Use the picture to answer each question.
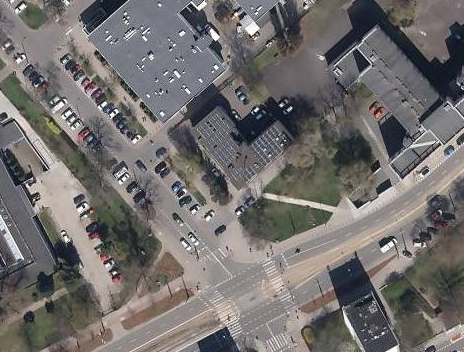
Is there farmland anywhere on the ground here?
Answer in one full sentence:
No, farmland can't be seen anywhere here.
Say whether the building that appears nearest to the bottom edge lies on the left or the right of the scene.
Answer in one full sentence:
The building that appears nearest to the bottom edge appears in the right half of the scene.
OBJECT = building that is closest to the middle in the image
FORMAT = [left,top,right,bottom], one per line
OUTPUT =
[193,106,294,195]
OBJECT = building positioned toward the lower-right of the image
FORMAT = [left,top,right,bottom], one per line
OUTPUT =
[342,291,398,352]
